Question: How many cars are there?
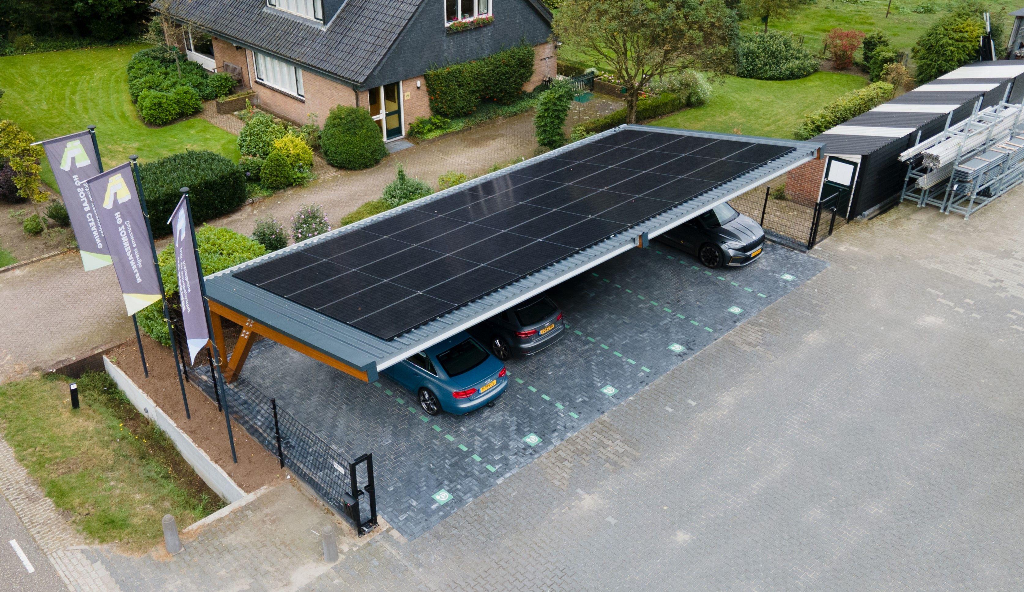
3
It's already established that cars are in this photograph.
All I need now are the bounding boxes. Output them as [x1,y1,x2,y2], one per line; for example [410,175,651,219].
[456,286,570,361]
[385,324,514,418]
[641,196,772,267]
